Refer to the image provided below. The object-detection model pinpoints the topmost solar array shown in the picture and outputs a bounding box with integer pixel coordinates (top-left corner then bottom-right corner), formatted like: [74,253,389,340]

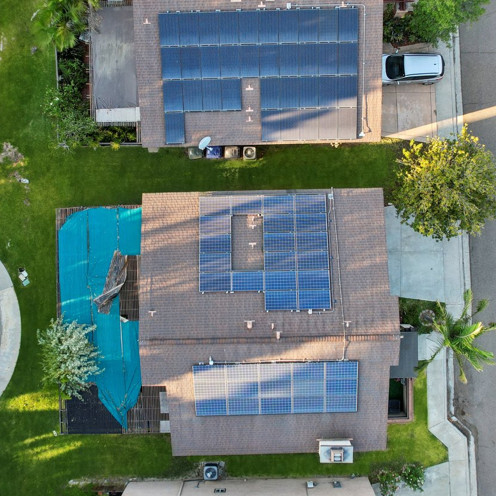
[157,1,365,144]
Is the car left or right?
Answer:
right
